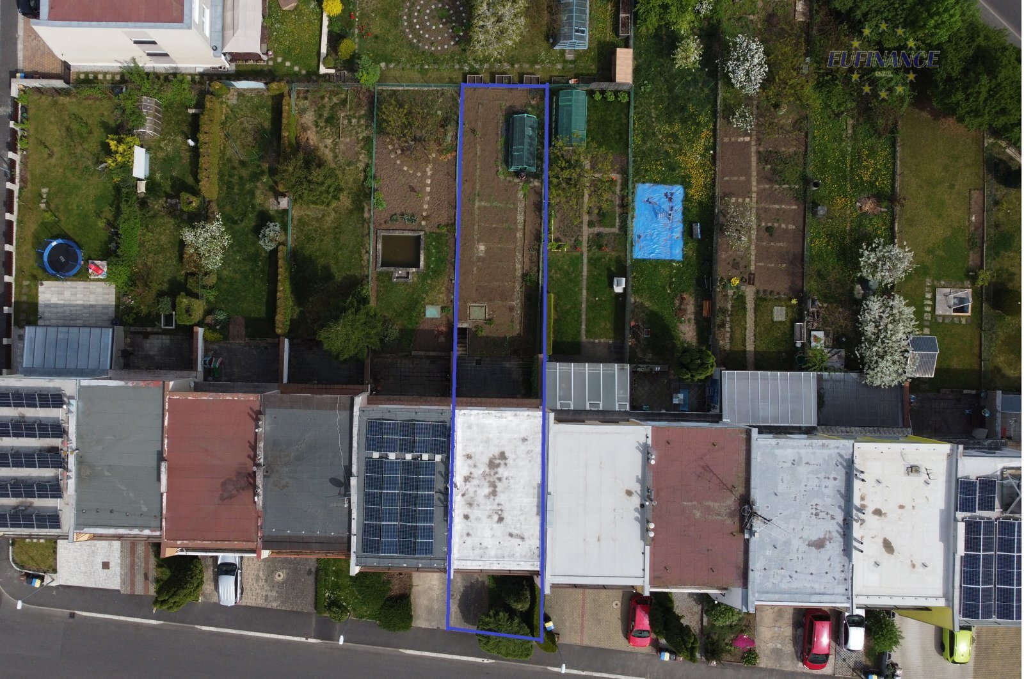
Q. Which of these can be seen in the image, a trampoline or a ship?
trampoline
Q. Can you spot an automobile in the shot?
Yes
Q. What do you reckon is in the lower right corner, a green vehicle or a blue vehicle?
green vehicle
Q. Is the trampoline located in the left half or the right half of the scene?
left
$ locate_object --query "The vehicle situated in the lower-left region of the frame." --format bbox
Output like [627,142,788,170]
[215,557,244,606]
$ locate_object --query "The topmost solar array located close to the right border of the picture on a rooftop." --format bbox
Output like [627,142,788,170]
[958,478,997,512]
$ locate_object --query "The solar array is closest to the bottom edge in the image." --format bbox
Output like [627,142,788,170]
[958,519,1024,621]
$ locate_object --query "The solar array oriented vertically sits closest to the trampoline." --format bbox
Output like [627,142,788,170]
[0,390,68,529]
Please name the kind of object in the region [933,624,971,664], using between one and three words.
car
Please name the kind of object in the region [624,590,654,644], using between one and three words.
car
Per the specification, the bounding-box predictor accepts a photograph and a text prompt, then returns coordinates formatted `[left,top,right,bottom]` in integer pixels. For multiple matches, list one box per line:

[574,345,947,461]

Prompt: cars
[215,557,244,606]
[835,610,867,652]
[16,0,40,28]
[624,590,654,644]
[796,610,833,666]
[933,624,971,664]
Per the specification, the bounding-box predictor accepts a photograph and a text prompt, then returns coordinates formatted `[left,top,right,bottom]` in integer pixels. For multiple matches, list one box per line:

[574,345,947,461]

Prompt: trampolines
[32,235,87,283]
